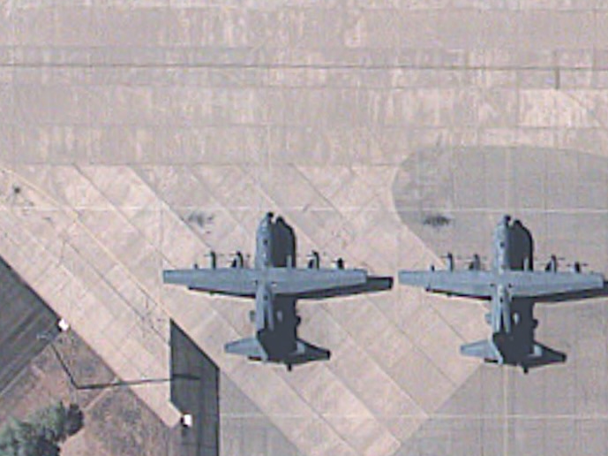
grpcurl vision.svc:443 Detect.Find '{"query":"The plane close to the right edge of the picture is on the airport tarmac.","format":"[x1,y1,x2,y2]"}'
[398,214,603,366]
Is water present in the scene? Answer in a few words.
No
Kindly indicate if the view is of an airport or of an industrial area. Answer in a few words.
airport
